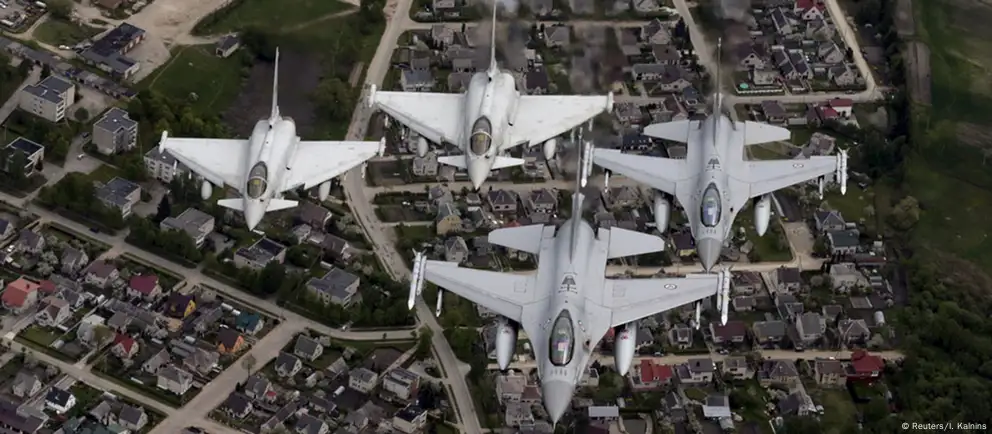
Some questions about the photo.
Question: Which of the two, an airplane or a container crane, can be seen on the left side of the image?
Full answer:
Visible on the left side of the image is an airplane.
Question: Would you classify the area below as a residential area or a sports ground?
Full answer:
What you see here is a residential area.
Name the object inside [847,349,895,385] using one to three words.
house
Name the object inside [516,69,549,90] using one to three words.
house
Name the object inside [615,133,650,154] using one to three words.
shed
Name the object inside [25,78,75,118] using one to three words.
building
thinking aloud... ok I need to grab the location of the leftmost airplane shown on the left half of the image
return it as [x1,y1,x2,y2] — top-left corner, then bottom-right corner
[156,50,387,232]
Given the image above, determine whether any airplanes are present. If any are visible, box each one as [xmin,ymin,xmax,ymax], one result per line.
[156,50,387,232]
[580,36,850,275]
[368,0,615,192]
[407,126,732,433]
